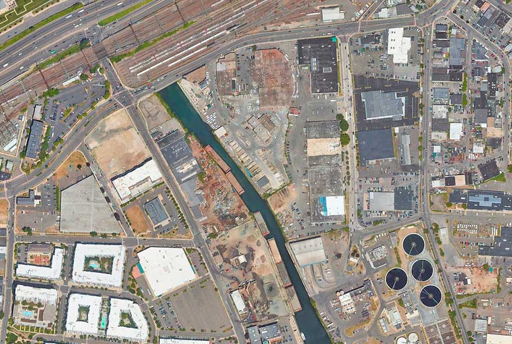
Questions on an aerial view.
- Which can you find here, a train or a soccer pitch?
train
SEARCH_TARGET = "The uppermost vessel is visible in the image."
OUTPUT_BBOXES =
[205,145,229,171]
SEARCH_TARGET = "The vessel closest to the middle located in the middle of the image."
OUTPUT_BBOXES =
[224,172,246,195]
